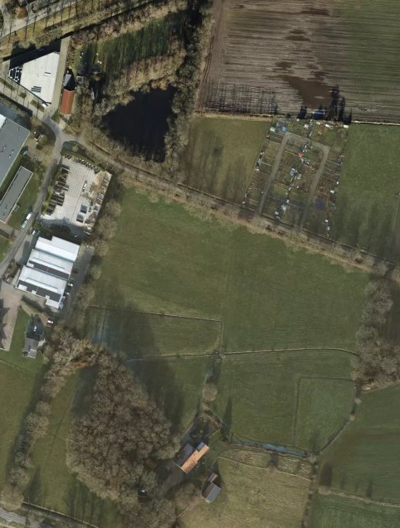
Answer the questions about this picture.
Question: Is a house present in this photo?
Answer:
Yes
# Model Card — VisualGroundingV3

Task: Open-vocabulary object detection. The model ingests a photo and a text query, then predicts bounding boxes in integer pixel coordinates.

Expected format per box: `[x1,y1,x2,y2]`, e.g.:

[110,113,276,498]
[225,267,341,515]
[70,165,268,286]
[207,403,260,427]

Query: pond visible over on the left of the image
[99,85,178,164]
